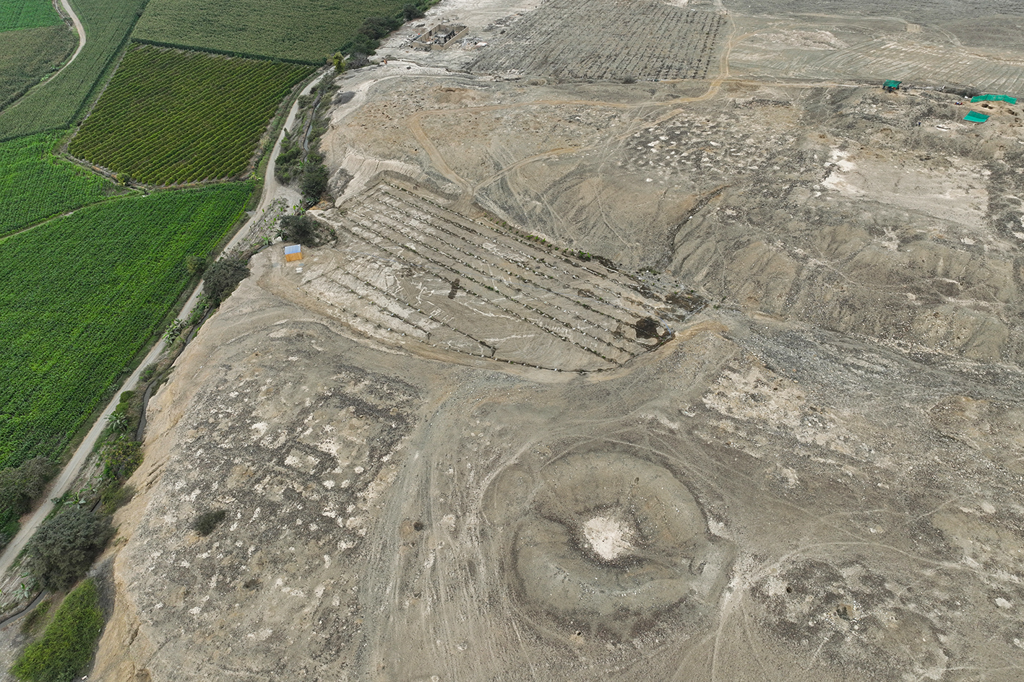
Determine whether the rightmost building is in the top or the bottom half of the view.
top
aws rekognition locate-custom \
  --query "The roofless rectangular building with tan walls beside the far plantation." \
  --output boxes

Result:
[412,25,469,50]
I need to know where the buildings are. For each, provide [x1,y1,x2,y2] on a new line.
[412,25,469,50]
[284,245,303,261]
